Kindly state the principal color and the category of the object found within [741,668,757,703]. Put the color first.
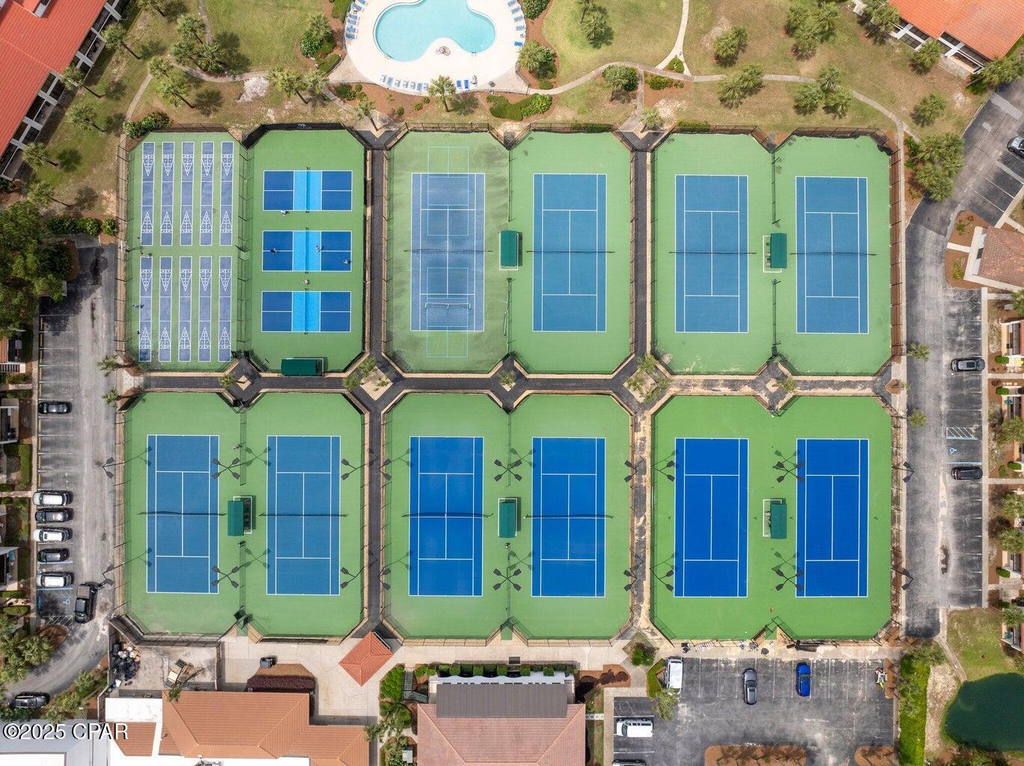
gray car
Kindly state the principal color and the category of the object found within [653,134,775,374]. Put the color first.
green tennis court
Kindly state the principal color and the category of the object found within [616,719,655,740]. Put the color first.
white vehicle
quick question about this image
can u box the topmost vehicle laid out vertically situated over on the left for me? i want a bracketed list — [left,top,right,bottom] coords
[75,583,95,622]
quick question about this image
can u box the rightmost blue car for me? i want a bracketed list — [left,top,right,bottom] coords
[796,663,812,695]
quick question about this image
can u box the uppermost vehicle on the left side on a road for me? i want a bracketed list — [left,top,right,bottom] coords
[40,400,73,415]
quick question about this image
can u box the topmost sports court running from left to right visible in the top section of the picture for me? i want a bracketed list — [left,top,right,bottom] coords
[263,169,352,211]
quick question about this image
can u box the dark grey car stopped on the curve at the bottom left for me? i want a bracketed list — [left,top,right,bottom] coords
[13,692,50,709]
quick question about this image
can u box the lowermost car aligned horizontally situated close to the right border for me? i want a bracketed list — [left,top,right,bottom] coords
[950,465,983,481]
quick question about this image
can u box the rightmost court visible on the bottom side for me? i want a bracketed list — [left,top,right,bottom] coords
[773,397,892,641]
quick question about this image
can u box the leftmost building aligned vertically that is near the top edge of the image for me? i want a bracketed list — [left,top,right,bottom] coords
[0,38,68,200]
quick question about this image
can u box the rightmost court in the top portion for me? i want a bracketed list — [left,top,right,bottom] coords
[773,135,891,375]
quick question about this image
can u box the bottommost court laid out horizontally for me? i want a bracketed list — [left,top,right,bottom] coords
[261,291,351,333]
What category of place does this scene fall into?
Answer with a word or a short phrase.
sports ground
